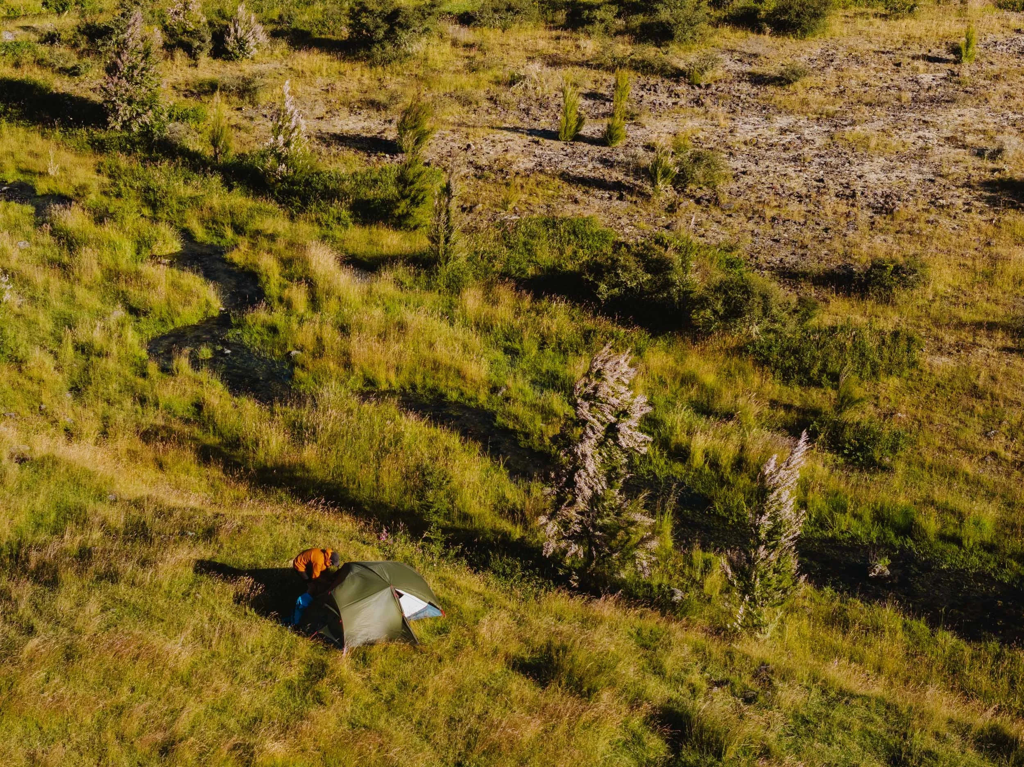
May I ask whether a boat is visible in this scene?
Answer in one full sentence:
No, there's no boat here.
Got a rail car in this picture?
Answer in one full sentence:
No, the photo shows no rail car.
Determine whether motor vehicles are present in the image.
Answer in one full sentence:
No, the frame has no motor vehicle in it.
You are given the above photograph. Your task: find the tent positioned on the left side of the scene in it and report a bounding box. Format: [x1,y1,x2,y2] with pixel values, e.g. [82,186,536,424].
[310,561,454,660]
